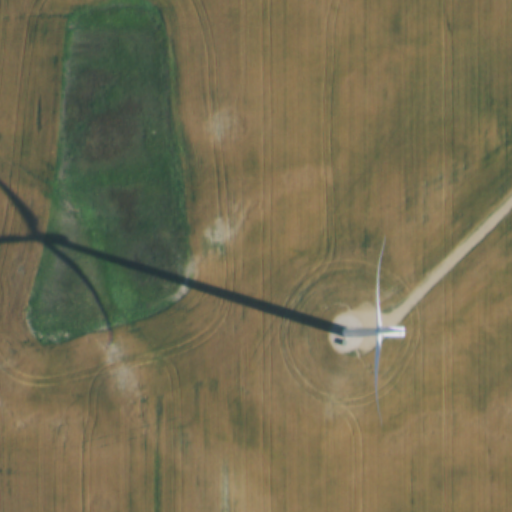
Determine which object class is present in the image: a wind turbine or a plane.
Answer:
wind turbine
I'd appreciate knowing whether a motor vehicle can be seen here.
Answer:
No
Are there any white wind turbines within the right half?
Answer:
Yes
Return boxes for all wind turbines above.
[338,236,406,422]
